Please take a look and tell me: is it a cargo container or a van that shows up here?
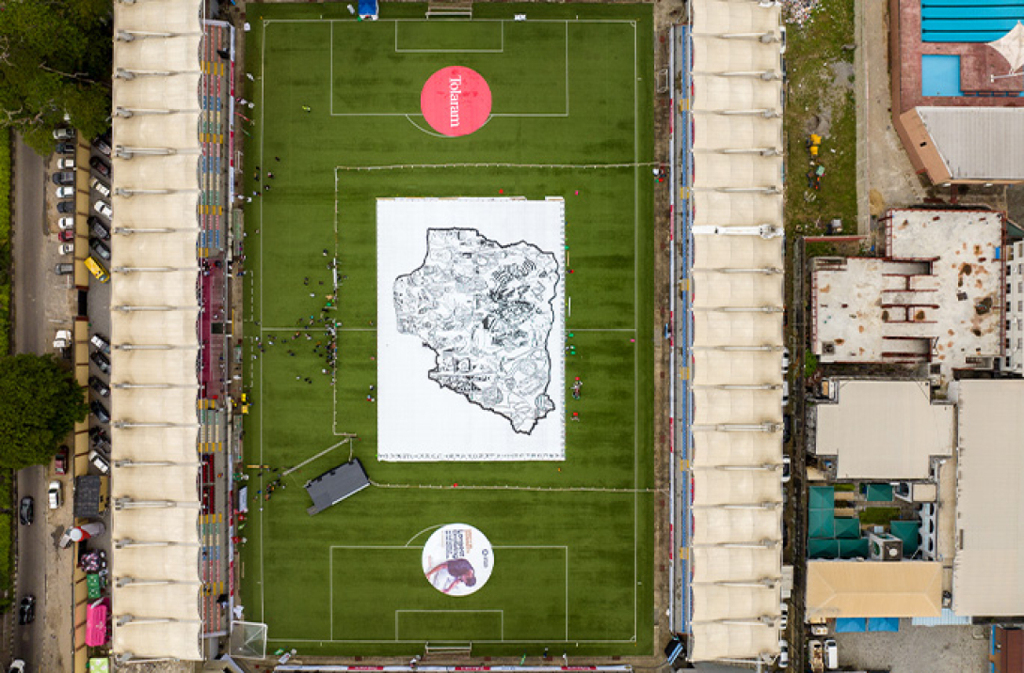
van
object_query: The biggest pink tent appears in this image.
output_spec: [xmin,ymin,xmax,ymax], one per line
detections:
[86,599,112,646]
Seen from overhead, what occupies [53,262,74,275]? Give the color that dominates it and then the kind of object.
gray vehicle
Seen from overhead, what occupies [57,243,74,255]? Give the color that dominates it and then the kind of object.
white vehicle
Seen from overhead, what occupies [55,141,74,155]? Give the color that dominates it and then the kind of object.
black car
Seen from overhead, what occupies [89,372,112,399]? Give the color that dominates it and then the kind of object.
black car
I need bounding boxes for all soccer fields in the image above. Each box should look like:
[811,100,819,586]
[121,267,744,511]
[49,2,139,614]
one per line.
[244,2,653,657]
